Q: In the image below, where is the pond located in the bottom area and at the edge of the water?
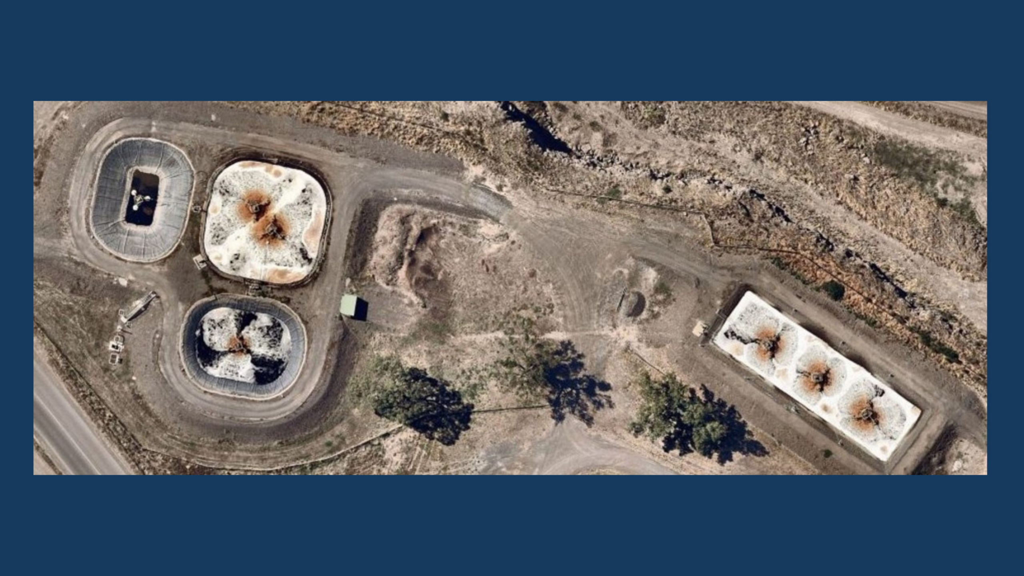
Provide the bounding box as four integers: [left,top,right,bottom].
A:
[178,293,308,401]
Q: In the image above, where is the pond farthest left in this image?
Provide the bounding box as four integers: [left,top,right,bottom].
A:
[88,136,195,262]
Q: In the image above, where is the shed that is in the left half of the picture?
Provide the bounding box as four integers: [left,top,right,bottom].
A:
[339,295,356,317]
